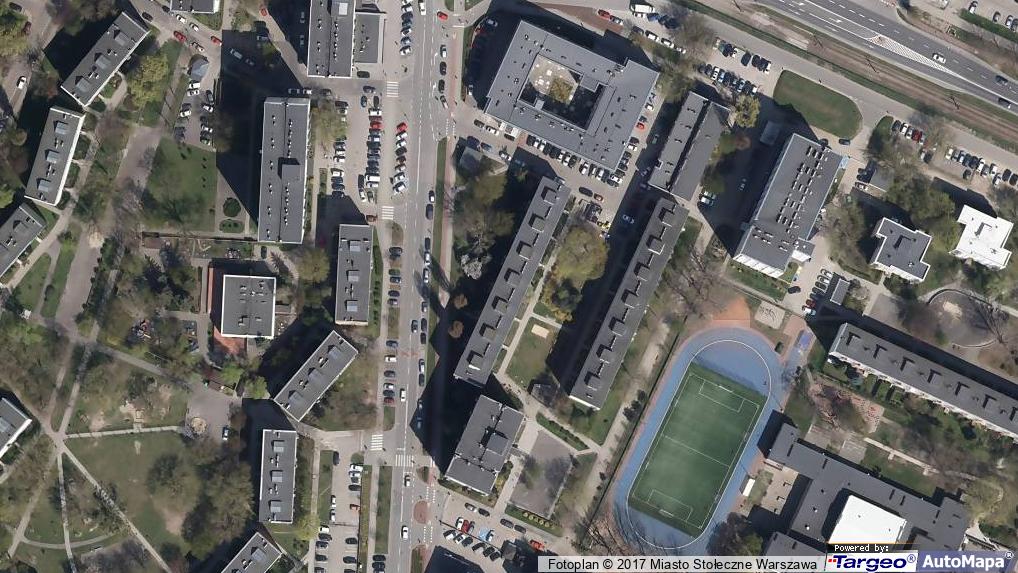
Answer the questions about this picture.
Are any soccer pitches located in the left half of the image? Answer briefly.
No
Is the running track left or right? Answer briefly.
right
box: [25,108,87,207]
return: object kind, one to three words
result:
building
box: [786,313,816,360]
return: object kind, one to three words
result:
sports court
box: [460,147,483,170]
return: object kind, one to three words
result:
shed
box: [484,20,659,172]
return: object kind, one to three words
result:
building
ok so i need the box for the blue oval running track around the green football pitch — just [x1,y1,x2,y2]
[613,327,801,564]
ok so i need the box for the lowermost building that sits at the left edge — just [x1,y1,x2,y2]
[0,398,32,457]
